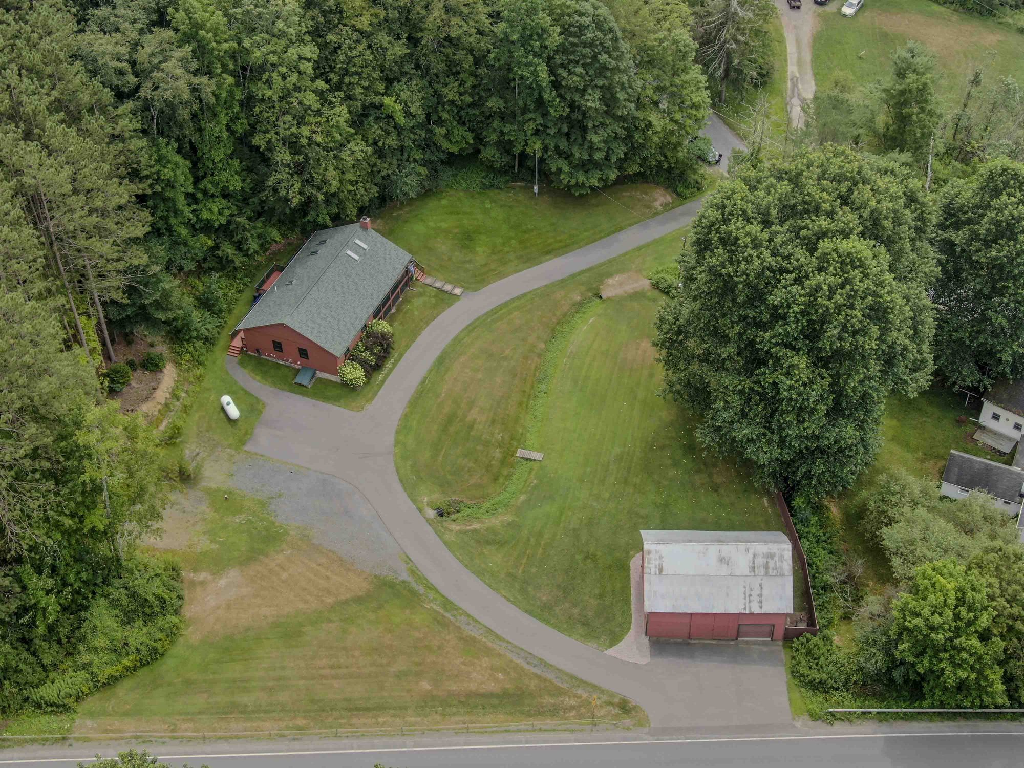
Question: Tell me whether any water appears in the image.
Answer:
No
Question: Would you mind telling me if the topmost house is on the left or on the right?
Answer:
left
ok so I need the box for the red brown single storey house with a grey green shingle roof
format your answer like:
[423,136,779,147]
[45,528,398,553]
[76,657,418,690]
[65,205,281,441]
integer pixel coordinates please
[225,214,432,378]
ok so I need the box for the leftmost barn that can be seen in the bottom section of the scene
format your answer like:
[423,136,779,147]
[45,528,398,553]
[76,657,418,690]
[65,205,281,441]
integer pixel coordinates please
[638,530,794,641]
